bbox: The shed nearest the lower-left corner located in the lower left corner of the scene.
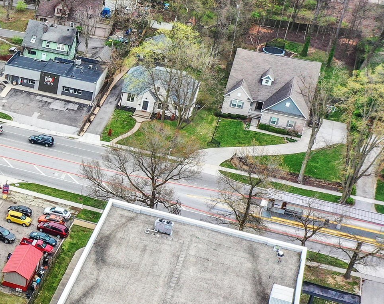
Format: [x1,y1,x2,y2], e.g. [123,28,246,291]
[1,243,44,290]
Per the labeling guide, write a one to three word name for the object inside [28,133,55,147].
car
